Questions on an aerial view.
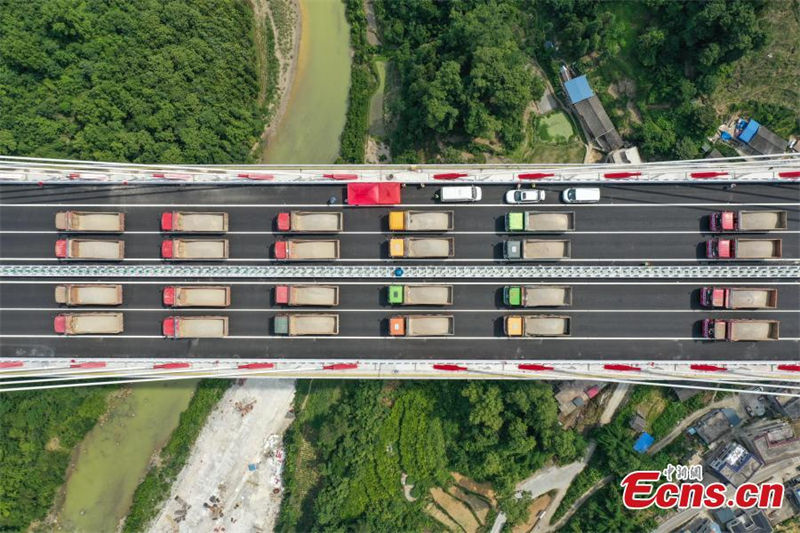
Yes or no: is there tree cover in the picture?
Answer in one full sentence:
Yes, tree cover shows up in the scene.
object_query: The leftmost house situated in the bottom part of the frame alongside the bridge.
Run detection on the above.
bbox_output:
[553,384,598,417]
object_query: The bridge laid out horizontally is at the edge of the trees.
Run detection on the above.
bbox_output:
[0,156,800,396]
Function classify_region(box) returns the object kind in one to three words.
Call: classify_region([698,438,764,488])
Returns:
house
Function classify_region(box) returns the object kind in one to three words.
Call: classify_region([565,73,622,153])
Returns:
shed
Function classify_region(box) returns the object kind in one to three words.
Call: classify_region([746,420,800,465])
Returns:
house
